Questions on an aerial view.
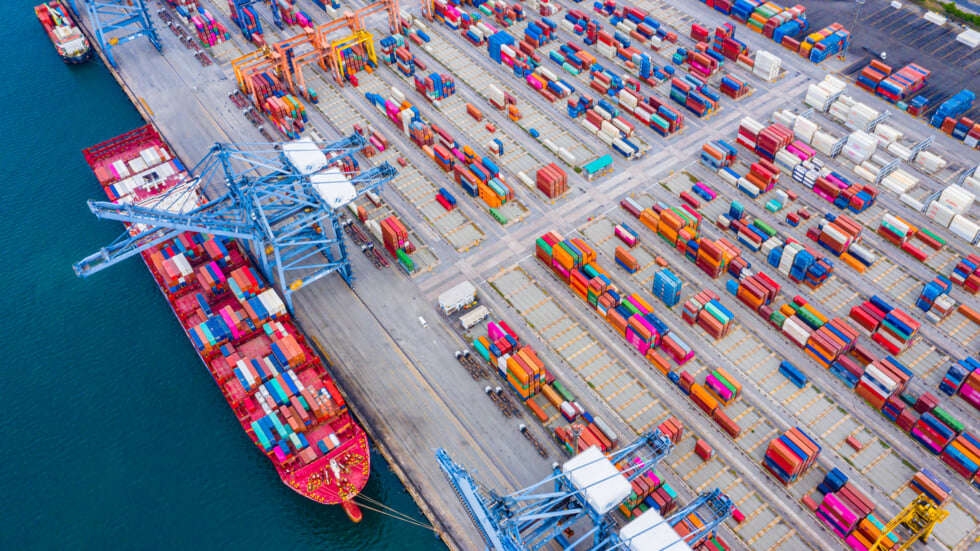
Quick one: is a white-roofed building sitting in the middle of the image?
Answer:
Yes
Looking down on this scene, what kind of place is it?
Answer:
port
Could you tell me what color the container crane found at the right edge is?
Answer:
yellow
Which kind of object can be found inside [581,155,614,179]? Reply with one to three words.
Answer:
shed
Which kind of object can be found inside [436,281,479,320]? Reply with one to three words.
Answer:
building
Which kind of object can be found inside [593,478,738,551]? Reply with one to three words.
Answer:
container crane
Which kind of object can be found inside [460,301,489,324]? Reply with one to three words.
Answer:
building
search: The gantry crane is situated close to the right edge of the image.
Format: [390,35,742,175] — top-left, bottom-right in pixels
[868,490,949,551]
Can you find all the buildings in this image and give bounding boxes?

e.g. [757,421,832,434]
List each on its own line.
[436,281,479,320]
[581,155,614,179]
[460,301,489,324]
